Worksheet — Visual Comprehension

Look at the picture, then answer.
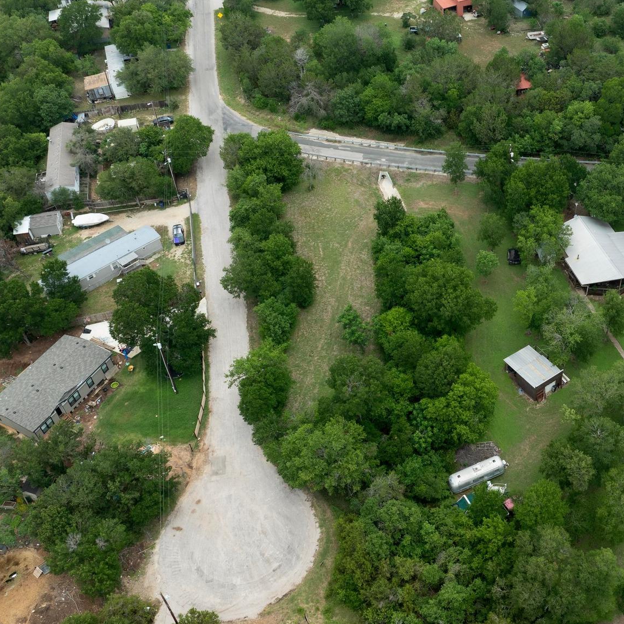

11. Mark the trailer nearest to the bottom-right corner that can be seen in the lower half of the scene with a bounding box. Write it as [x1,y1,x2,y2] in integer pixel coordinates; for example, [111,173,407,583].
[449,455,510,494]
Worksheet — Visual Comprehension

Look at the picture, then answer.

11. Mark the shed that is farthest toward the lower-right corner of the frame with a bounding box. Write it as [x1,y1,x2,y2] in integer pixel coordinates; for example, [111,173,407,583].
[504,346,560,397]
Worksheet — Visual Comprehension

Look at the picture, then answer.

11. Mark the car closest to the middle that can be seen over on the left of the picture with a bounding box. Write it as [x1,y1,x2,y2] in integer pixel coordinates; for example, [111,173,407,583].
[172,227,185,245]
